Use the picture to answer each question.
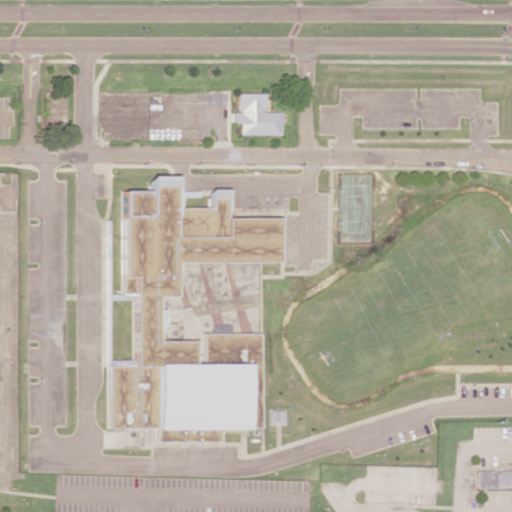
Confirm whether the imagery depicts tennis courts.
Yes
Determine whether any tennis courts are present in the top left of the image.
No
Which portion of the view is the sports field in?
right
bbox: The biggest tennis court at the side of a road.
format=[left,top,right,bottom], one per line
[340,174,372,242]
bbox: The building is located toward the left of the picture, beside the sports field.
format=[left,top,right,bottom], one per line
[107,176,286,442]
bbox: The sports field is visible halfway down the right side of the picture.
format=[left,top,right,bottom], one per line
[288,192,512,402]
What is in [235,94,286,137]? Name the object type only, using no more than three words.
house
